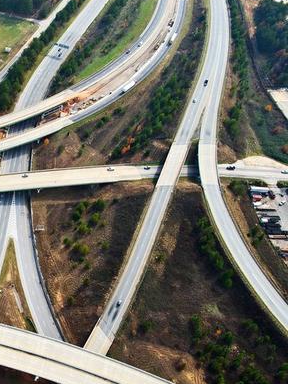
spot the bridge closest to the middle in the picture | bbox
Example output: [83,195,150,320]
[157,141,190,185]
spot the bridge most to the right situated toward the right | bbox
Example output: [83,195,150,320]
[197,142,220,184]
